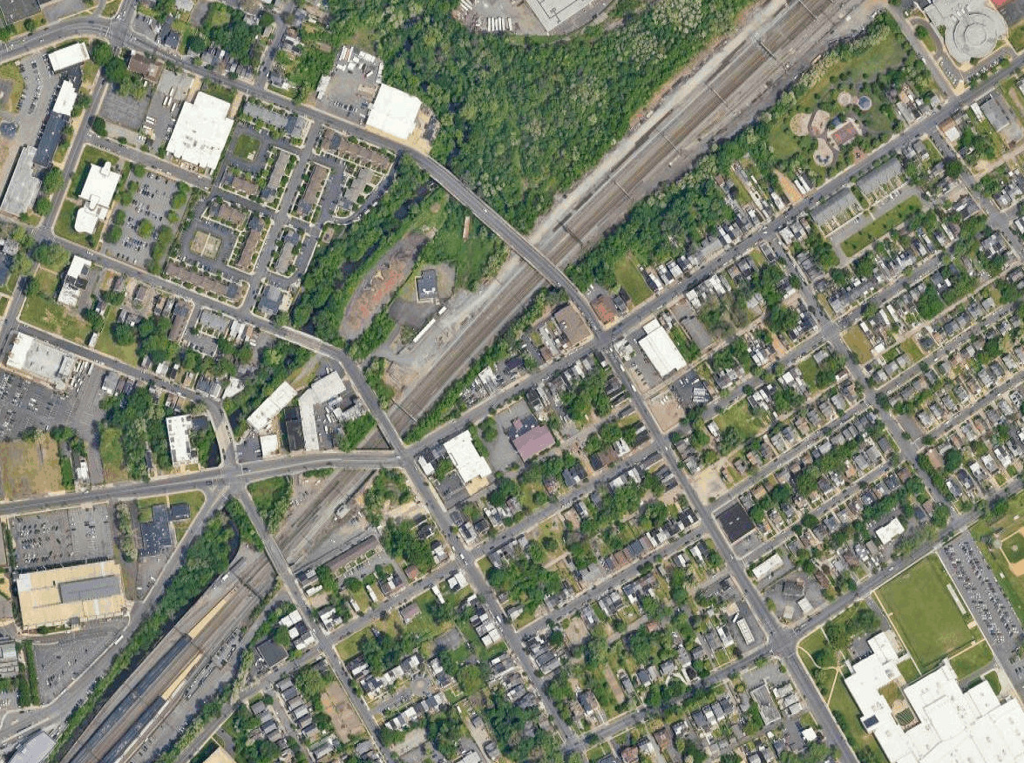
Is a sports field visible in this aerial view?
Yes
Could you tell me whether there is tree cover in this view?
Yes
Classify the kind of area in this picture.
residential area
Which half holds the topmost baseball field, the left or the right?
right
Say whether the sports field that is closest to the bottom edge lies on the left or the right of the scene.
right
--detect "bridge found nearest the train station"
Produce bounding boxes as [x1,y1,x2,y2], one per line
[250,515,314,614]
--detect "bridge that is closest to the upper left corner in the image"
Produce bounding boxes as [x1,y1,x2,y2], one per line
[276,324,321,353]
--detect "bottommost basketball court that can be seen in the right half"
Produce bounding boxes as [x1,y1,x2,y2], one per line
[828,118,862,149]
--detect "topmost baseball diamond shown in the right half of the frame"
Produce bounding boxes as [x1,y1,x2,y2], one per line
[972,505,1024,586]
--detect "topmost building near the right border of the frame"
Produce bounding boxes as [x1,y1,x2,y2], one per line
[925,0,1009,66]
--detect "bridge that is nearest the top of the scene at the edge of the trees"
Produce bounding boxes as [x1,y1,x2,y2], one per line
[420,157,578,297]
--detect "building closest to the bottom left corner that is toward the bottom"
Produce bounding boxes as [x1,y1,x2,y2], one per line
[9,732,57,763]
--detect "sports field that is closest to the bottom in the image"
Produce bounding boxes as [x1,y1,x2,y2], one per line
[875,555,976,669]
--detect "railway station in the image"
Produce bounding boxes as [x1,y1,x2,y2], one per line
[66,579,257,763]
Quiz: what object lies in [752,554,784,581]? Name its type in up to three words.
building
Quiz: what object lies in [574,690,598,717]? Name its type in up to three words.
house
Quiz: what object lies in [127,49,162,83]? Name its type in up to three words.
building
